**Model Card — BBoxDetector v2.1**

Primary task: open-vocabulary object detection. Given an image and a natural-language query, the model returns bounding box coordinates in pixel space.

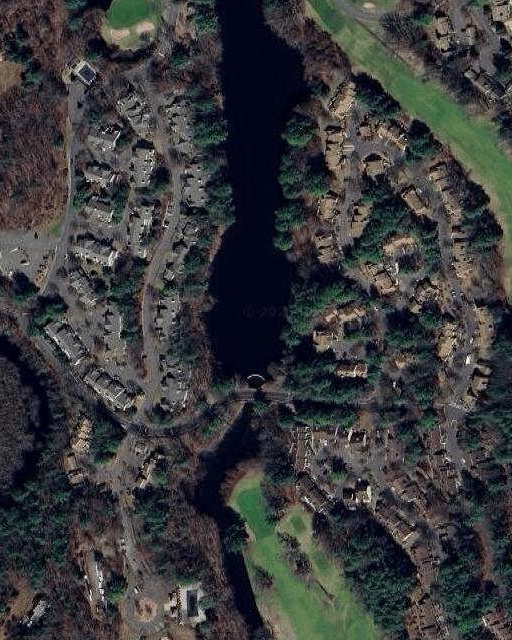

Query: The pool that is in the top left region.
[74,62,100,86]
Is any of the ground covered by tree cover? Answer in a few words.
Yes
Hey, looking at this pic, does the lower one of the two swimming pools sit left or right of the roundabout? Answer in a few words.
to the right of it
